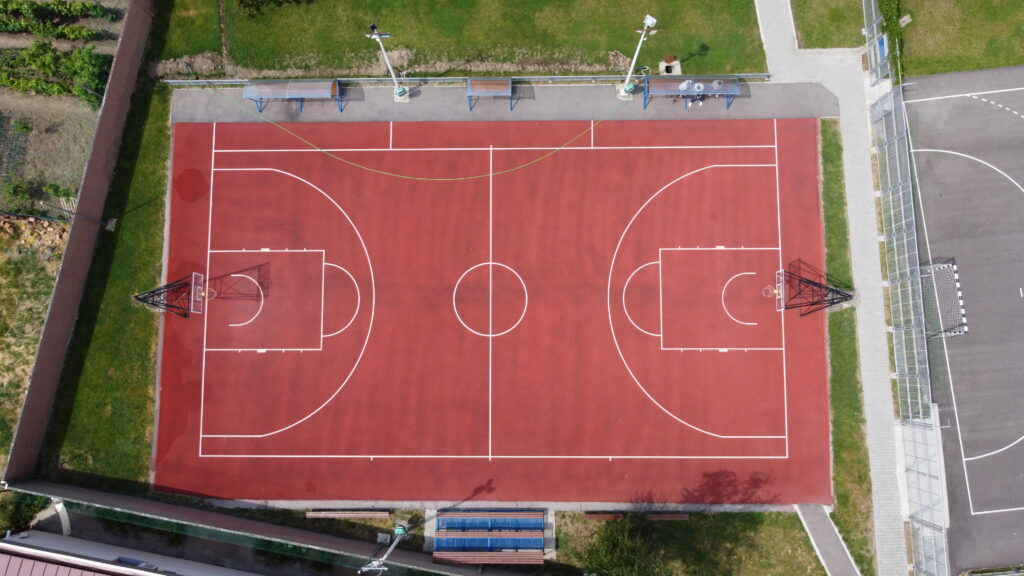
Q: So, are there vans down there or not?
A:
No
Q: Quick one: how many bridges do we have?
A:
0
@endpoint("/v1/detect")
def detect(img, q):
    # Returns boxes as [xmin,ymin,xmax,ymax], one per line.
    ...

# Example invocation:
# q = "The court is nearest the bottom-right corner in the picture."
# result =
[874,66,1024,576]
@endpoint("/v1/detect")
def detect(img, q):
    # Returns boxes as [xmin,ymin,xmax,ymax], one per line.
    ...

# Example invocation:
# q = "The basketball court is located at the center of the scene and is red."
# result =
[152,118,833,504]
